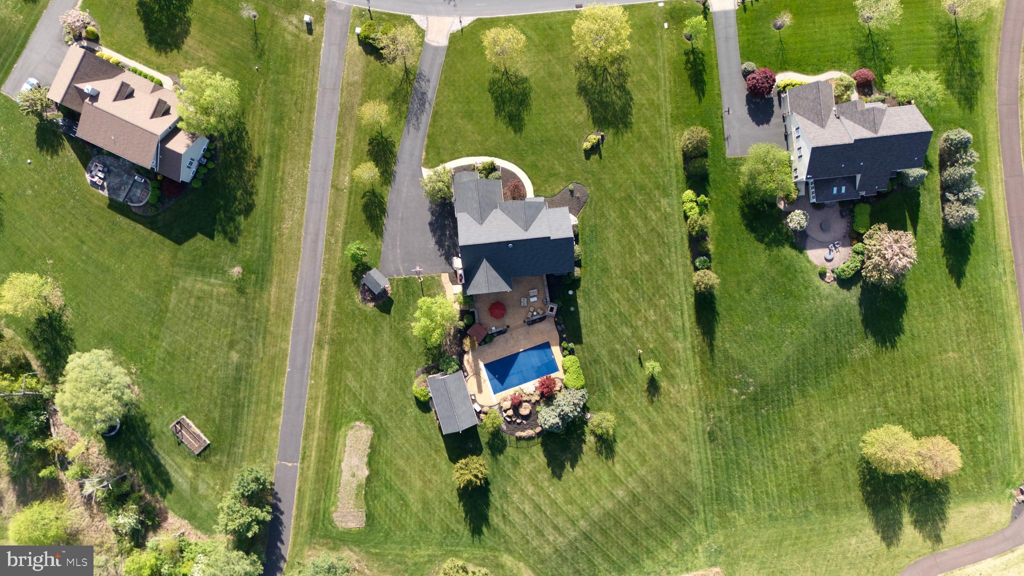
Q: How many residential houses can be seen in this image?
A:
3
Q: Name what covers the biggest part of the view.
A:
grass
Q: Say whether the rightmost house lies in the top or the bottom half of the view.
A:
top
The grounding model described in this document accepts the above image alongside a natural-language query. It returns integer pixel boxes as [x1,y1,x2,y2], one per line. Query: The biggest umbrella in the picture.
[489,302,505,319]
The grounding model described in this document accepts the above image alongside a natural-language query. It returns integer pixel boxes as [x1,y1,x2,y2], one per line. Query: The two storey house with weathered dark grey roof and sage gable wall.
[778,81,933,203]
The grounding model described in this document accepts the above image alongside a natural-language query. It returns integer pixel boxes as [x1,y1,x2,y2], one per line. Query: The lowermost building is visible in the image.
[426,371,478,435]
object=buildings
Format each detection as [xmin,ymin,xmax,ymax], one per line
[467,323,488,343]
[426,371,478,435]
[48,45,210,183]
[778,81,933,203]
[450,170,575,296]
[362,267,389,295]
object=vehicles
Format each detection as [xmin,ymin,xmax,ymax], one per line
[452,258,461,272]
[14,76,38,102]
